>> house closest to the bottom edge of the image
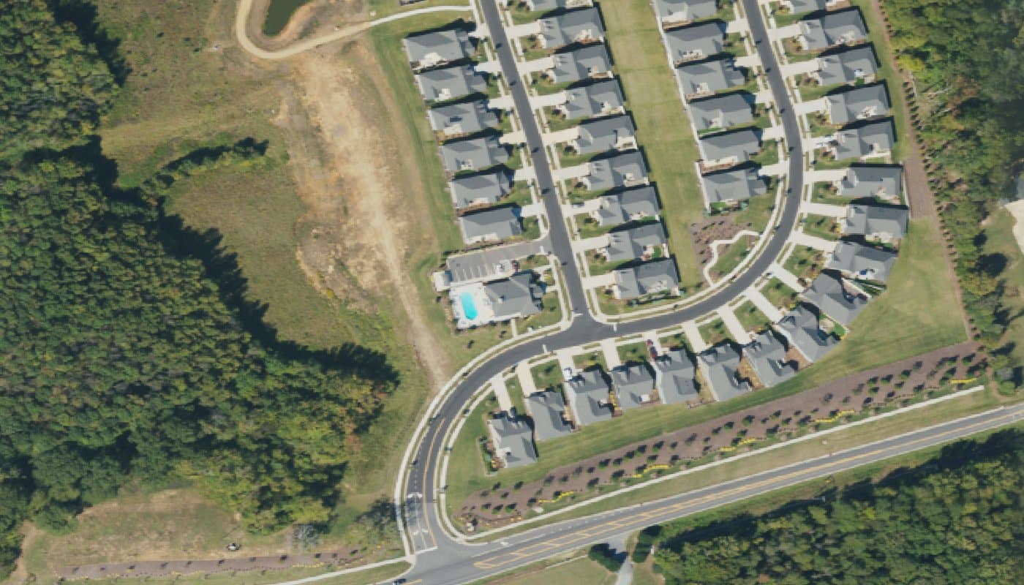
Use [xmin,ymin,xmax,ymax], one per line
[490,417,538,468]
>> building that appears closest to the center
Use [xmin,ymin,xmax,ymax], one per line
[483,269,549,316]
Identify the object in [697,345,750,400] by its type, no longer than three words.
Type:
house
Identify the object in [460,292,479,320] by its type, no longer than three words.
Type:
swimming pool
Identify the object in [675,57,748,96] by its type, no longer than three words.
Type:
house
